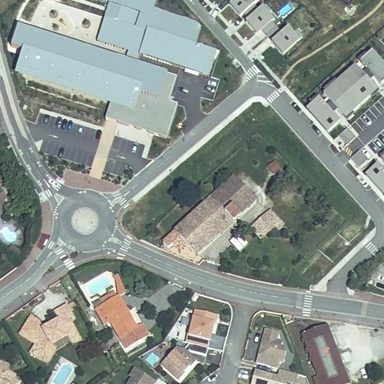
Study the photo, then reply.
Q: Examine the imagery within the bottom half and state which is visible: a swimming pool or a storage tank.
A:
swimming pool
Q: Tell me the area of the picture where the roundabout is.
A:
left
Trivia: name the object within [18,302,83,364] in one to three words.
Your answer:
house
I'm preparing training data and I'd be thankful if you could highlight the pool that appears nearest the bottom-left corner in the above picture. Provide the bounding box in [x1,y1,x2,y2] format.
[51,360,74,384]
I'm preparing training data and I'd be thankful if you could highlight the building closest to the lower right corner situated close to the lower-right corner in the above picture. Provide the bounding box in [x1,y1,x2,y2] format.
[300,322,351,384]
